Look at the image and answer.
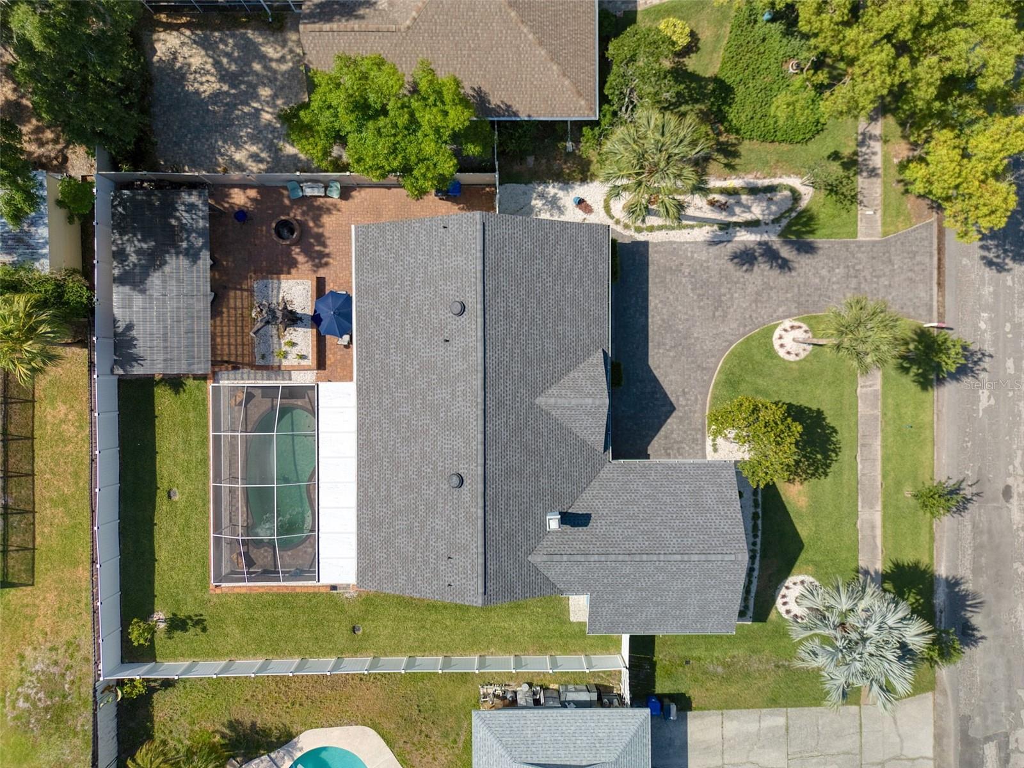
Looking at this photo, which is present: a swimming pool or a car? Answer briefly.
swimming pool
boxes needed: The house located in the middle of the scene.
[353,213,747,635]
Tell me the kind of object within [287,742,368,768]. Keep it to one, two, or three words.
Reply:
swimming pool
